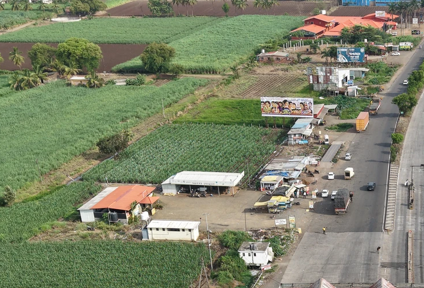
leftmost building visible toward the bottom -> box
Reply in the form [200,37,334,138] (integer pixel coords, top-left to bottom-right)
[75,180,156,224]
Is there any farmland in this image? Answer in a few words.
Yes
